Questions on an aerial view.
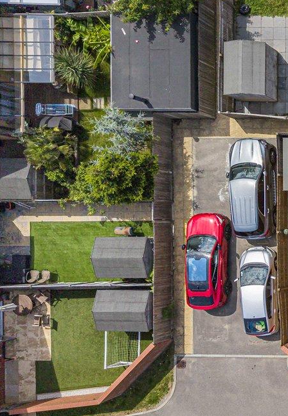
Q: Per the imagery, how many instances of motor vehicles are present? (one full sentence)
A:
The number of motor vehicles here is 3.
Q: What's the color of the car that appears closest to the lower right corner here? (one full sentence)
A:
The color of the car that appears closest to the lower right corner is white.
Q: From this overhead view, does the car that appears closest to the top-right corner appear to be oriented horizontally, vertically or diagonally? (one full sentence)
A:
The car that appears closest to the top-right corner is laid out vertically.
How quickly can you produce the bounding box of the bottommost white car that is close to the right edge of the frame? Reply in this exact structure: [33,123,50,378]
[233,248,276,334]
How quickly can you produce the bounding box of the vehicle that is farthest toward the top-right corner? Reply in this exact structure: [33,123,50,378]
[226,138,276,238]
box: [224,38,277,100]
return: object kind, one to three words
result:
shed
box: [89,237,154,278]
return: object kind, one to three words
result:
shed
